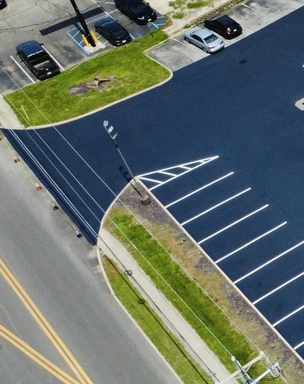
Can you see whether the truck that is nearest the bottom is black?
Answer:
Yes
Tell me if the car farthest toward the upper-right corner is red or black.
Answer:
black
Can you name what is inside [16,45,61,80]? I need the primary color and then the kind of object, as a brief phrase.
black truck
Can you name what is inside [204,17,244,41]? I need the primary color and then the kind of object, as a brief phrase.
black car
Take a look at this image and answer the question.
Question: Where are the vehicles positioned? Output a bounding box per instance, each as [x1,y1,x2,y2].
[16,45,61,80]
[204,17,244,41]
[115,0,156,24]
[184,29,227,56]
[93,17,132,47]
